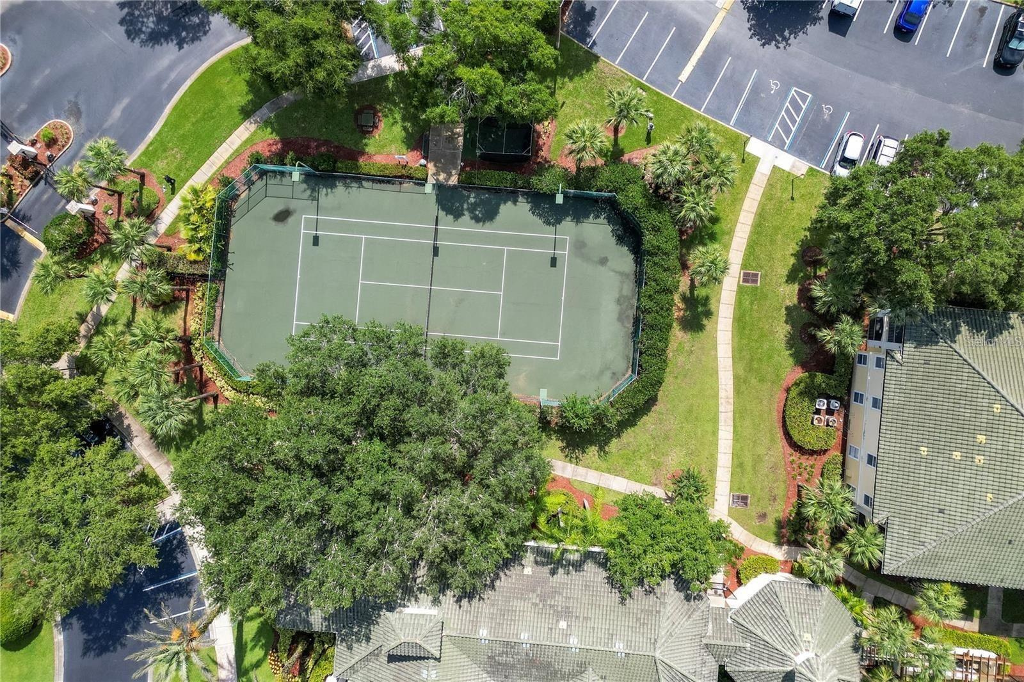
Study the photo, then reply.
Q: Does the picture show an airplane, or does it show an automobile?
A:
automobile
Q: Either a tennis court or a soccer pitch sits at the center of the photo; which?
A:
tennis court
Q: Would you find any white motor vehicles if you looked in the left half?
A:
No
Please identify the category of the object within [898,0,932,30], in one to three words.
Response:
car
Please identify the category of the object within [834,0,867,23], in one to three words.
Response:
car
